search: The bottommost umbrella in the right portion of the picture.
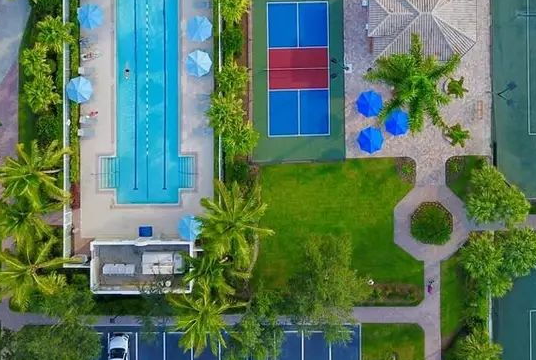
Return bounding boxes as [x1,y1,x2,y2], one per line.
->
[357,127,384,153]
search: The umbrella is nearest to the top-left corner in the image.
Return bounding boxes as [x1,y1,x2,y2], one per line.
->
[79,4,105,30]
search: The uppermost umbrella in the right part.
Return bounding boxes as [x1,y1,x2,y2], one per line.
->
[356,91,381,116]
